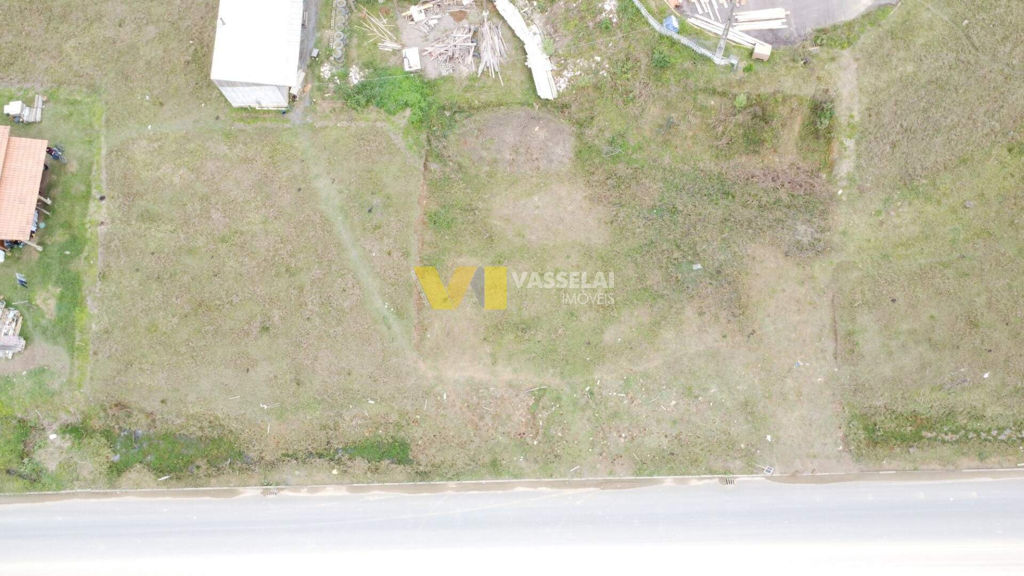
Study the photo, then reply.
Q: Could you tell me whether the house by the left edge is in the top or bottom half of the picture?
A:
top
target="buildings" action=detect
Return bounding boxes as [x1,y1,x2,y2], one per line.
[210,0,304,107]
[0,125,53,251]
